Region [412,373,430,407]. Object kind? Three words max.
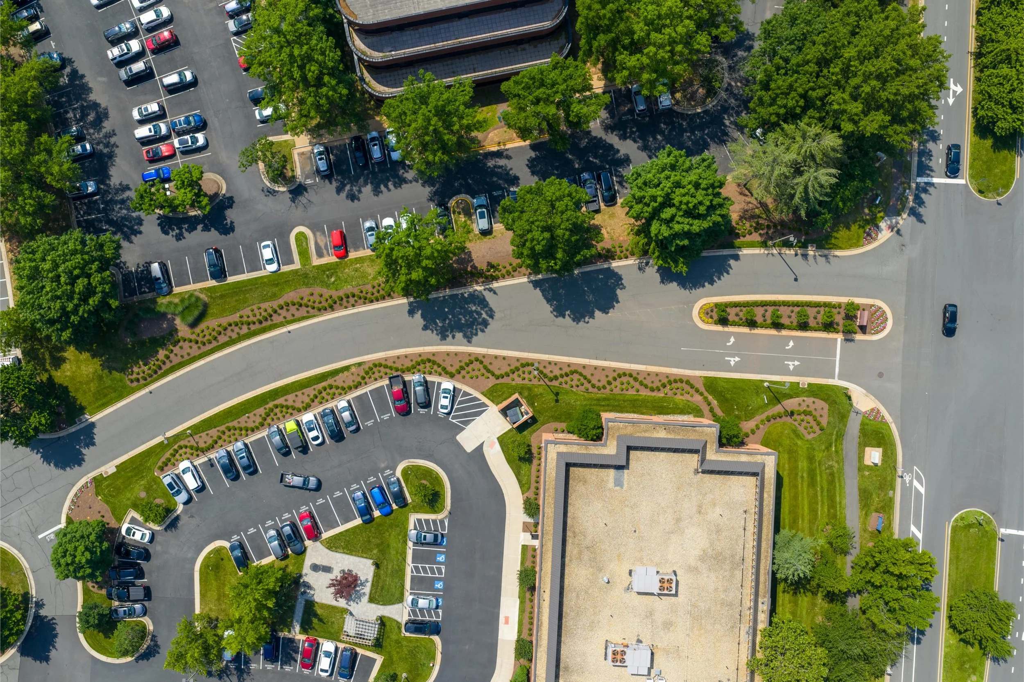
car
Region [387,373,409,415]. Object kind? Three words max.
truck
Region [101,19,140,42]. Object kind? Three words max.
truck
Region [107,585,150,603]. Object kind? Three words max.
vehicle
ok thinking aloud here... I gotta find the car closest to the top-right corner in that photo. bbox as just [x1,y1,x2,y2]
[944,143,961,178]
